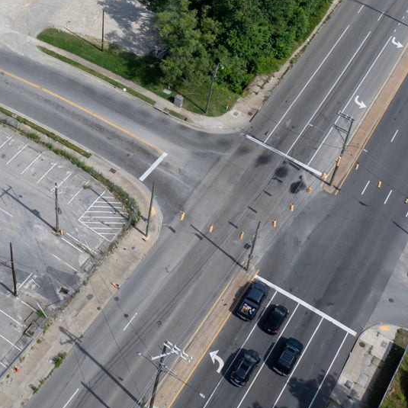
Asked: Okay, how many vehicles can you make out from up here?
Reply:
4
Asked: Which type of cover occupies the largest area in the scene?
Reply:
paved ground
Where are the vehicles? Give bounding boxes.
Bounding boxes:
[265,333,304,384]
[259,302,290,341]
[227,346,261,391]
[230,279,267,326]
